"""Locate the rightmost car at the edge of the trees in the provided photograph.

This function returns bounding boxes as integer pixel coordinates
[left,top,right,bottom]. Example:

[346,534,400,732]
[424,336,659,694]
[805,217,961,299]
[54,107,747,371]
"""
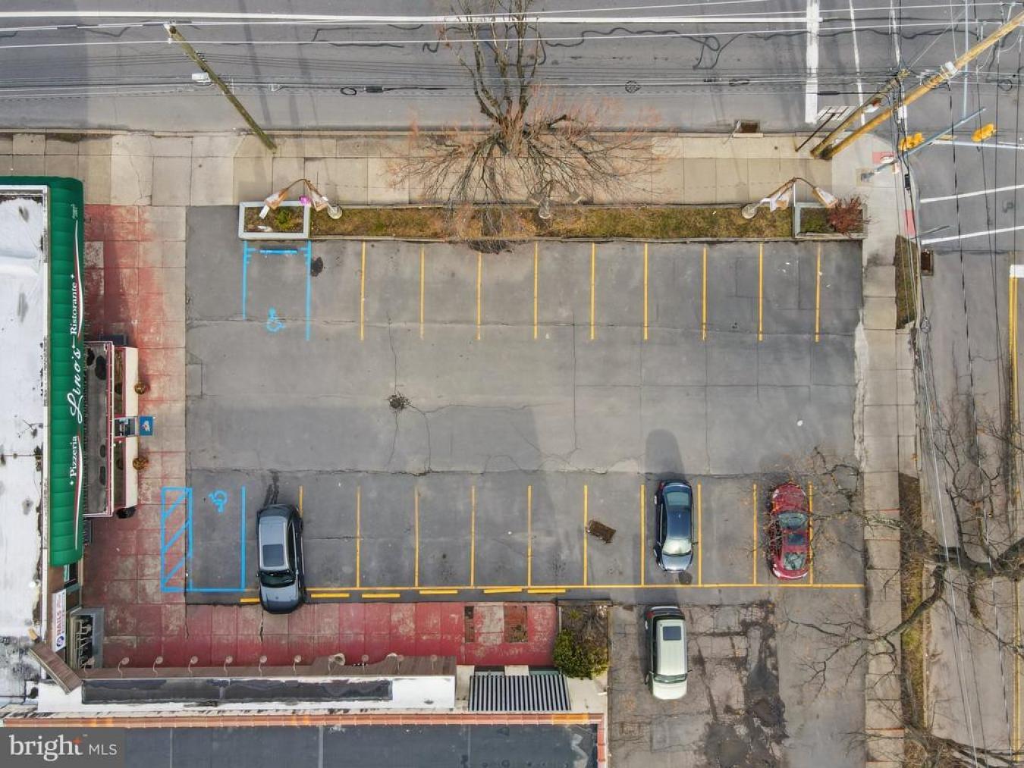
[766,482,815,581]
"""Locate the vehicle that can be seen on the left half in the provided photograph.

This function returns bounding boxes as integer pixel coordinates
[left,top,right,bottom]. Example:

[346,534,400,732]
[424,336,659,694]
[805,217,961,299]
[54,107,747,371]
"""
[252,504,302,611]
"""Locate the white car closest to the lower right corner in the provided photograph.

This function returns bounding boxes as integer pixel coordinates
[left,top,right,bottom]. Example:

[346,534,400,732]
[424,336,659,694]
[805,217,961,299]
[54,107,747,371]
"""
[647,601,694,699]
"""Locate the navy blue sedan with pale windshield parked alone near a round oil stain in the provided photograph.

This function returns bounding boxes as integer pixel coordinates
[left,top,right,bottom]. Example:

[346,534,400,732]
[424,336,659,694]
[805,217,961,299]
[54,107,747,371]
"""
[654,481,698,575]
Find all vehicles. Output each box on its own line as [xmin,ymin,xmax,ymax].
[654,481,698,575]
[766,482,815,581]
[252,504,302,611]
[647,601,694,699]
